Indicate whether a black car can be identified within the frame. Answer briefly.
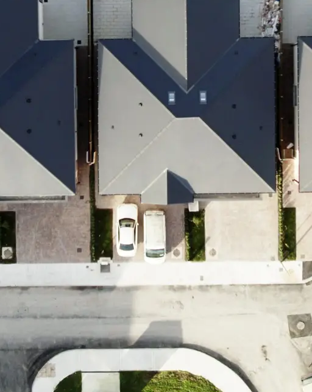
No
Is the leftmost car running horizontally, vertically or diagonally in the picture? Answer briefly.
vertically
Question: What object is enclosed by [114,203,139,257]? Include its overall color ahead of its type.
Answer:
white car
